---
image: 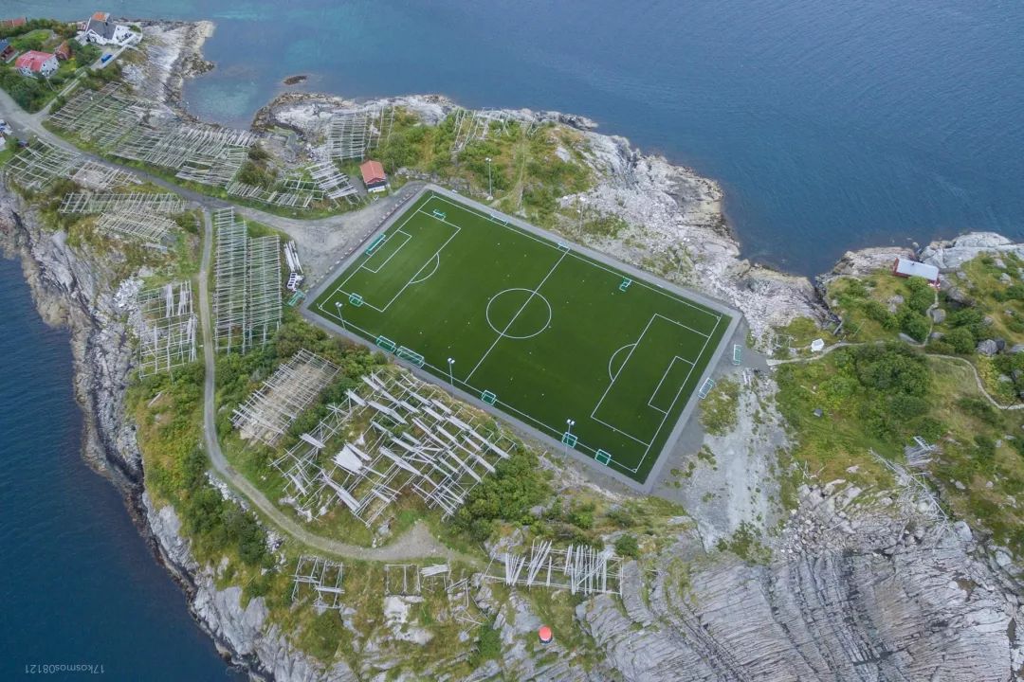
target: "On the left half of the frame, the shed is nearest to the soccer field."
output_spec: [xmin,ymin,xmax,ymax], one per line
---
[361,159,386,190]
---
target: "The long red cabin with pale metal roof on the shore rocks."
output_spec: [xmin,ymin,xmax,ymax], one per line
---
[892,258,938,289]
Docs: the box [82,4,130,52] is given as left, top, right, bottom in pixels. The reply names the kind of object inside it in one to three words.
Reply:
house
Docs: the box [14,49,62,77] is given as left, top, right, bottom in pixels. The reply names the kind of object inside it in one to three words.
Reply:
house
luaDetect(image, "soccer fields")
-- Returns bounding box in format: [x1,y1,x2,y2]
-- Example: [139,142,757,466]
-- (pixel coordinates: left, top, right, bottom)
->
[300,183,743,493]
